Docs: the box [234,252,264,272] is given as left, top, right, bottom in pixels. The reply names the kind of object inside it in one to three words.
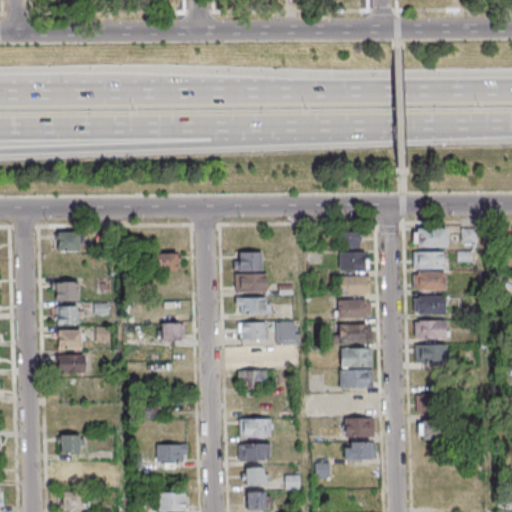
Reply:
house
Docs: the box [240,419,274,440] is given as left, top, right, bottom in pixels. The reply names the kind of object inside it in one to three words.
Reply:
house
